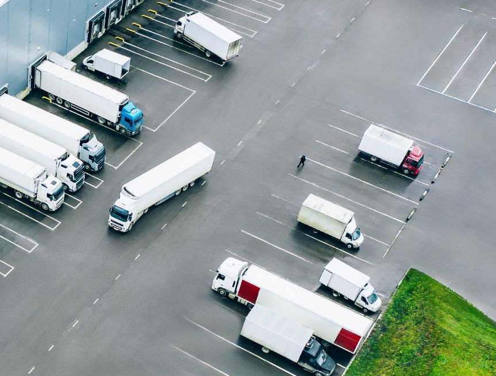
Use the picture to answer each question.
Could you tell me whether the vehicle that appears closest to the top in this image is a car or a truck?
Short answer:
truck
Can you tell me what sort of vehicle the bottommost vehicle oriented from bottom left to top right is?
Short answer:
truck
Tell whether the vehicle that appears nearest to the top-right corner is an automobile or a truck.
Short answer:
truck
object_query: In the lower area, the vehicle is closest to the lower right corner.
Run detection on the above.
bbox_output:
[318,258,381,312]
